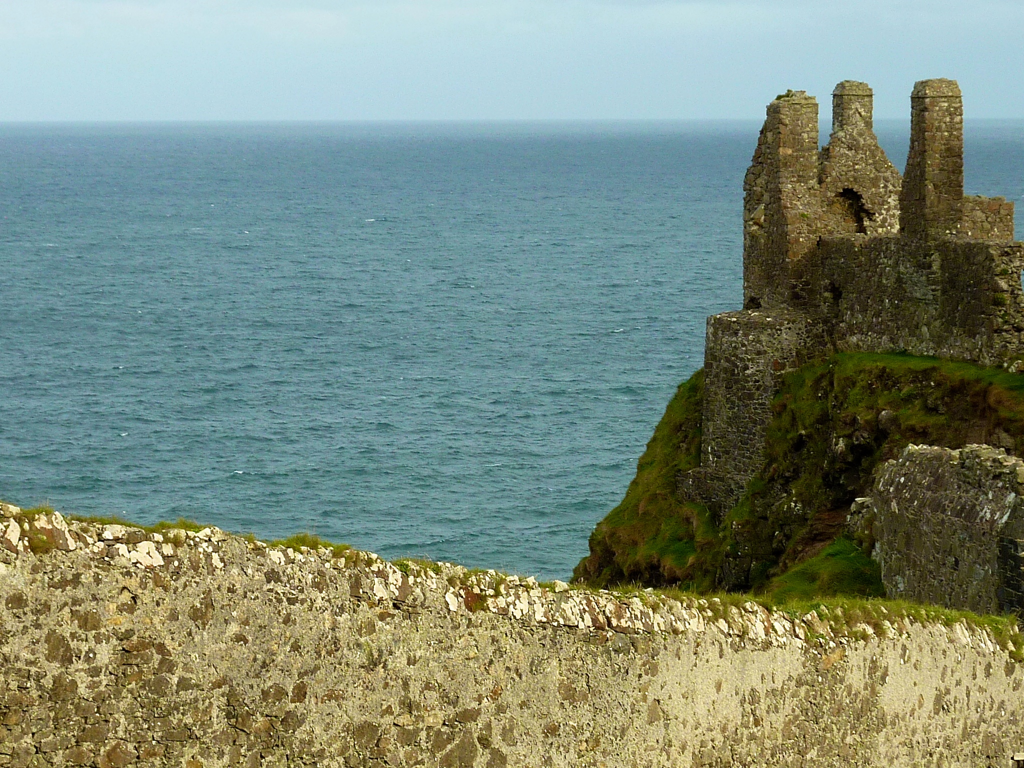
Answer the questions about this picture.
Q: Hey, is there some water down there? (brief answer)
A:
Yes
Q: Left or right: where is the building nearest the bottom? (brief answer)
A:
right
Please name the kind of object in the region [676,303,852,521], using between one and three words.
building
